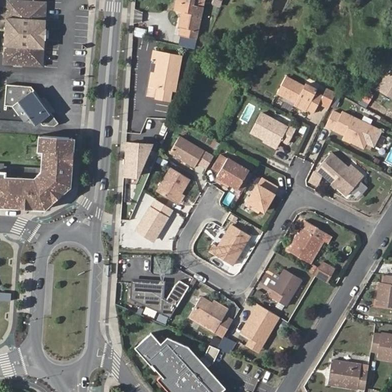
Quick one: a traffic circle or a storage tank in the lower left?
traffic circle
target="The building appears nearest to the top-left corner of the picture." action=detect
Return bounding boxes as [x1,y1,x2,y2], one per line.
[2,0,48,67]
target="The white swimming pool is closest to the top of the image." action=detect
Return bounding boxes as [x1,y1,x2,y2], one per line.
[238,100,257,124]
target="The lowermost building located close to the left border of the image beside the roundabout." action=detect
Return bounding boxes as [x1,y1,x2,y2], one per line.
[0,136,76,210]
